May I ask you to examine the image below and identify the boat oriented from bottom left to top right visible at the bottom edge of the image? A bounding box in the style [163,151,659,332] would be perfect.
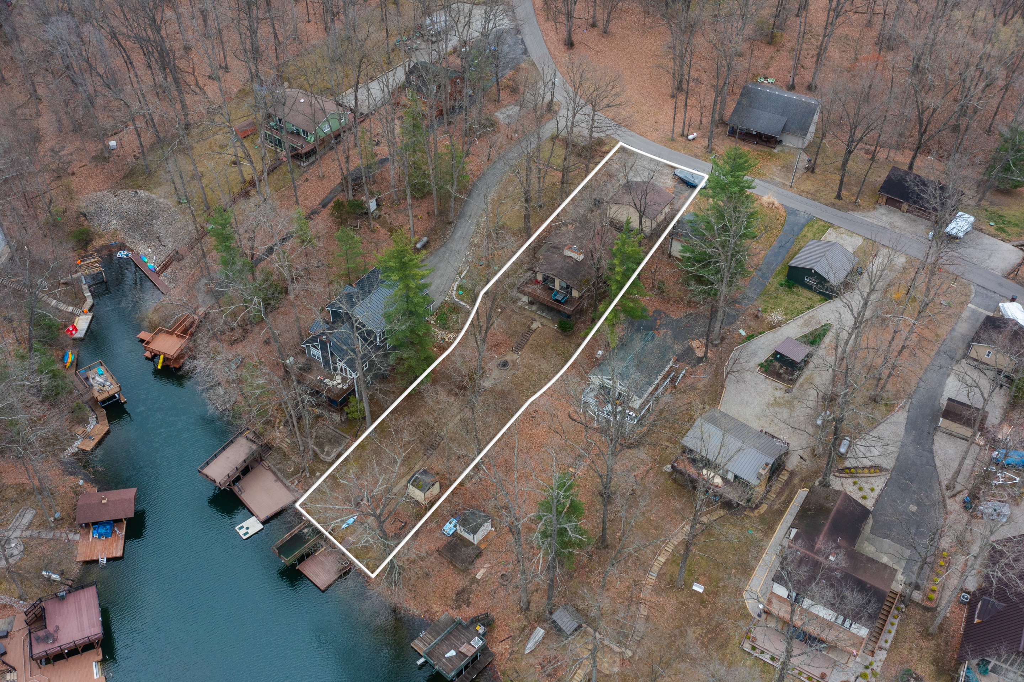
[524,626,545,654]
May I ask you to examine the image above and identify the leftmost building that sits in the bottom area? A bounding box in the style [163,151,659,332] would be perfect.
[76,483,140,563]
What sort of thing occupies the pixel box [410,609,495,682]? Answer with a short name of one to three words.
pier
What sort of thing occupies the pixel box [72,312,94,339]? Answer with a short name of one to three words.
pier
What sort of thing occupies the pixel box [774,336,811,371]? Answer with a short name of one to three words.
shed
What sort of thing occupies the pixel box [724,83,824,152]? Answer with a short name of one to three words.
house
